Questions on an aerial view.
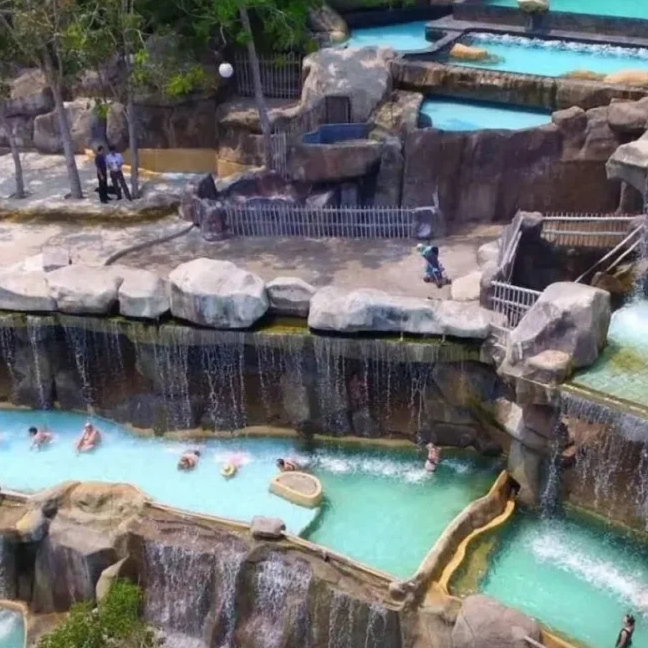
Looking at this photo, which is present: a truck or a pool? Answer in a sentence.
It is a pool that can be seen here.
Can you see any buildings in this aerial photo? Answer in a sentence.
No, this view has no building in it.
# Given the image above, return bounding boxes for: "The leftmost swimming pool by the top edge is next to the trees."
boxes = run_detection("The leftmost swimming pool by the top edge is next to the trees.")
[329,18,448,60]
